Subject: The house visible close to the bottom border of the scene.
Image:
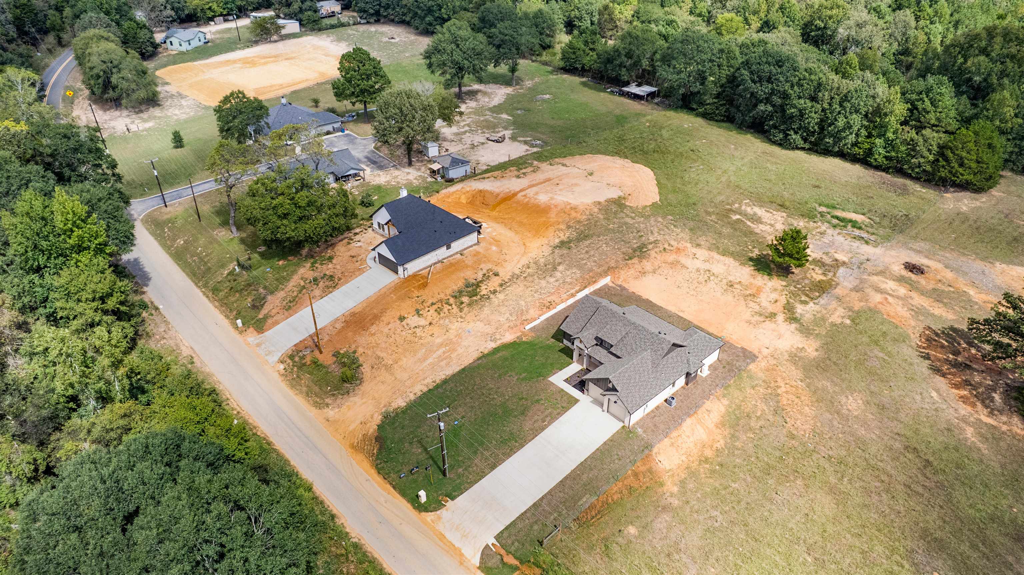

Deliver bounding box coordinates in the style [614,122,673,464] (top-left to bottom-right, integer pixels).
[421,396,624,566]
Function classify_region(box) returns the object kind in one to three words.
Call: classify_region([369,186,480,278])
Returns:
house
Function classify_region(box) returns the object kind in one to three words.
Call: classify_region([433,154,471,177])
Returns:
shed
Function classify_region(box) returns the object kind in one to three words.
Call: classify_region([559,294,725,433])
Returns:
house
